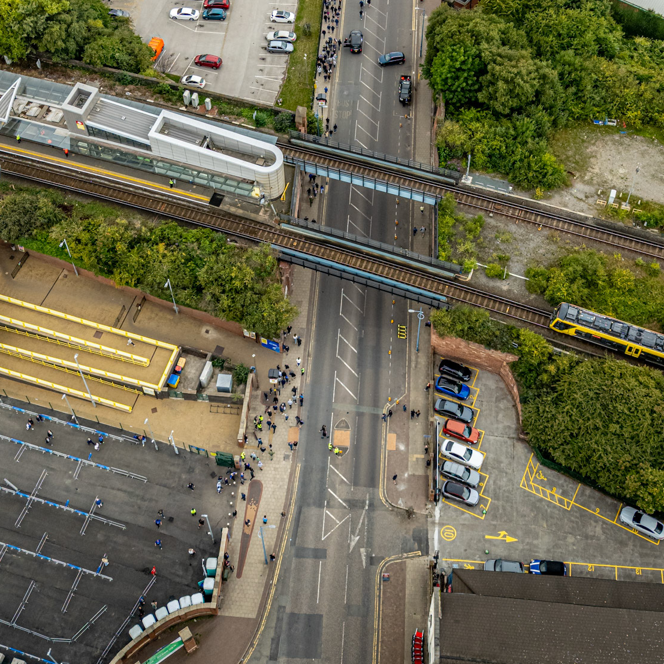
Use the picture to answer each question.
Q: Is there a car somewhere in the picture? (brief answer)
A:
Yes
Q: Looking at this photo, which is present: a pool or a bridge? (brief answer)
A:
bridge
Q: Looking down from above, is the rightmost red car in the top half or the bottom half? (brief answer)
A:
bottom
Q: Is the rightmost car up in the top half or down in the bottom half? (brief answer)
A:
bottom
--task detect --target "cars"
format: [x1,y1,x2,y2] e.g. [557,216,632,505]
[180,74,207,91]
[340,32,366,56]
[435,375,471,403]
[435,398,476,427]
[170,8,199,22]
[266,30,296,44]
[204,0,229,11]
[195,55,222,71]
[436,358,472,384]
[440,441,484,471]
[439,459,482,490]
[442,421,478,447]
[203,8,227,23]
[439,479,481,509]
[270,10,296,24]
[267,41,294,55]
[484,556,524,574]
[621,511,664,541]
[376,50,408,68]
[527,556,568,577]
